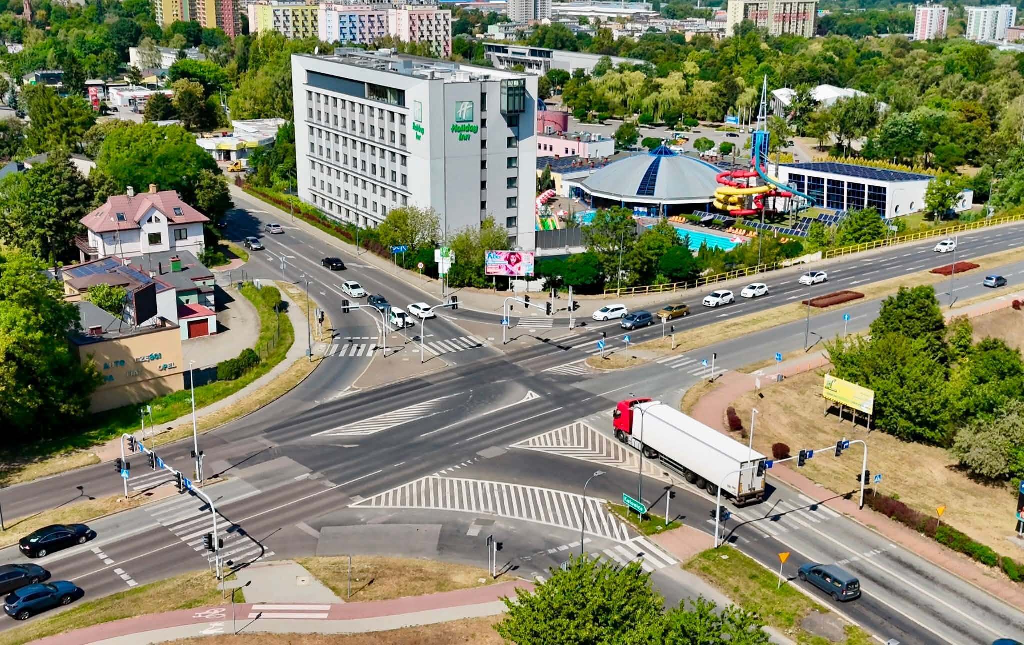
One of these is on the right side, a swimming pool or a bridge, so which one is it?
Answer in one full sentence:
It is a swimming pool that can be seen on the right side.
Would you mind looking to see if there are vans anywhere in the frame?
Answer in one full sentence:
Yes, a van is visible in the scene.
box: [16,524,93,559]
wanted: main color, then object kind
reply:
black car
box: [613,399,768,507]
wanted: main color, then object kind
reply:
white truck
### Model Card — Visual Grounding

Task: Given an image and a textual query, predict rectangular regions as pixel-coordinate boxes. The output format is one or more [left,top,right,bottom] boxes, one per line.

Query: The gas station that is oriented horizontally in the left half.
[110,91,176,113]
